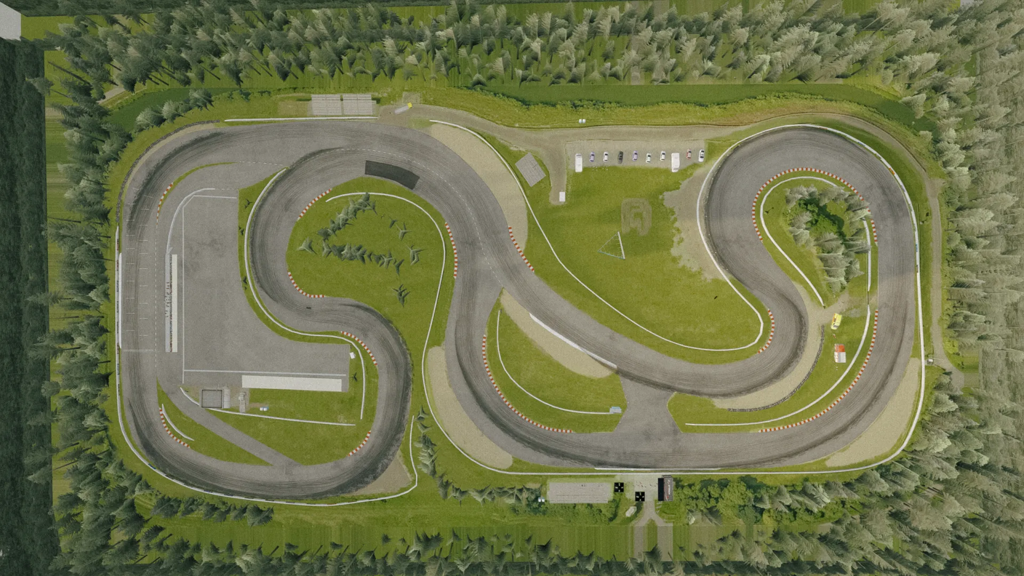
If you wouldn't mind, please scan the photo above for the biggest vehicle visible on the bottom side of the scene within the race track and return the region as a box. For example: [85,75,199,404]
[834,343,846,361]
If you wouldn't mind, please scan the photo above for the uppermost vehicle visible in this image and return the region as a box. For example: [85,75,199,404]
[395,102,413,115]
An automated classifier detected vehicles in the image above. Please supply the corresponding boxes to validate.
[646,153,651,163]
[660,151,666,161]
[590,152,595,162]
[699,150,704,161]
[603,152,608,162]
[575,154,582,173]
[395,102,413,115]
[831,314,842,328]
[834,343,846,361]
[632,151,638,161]
[686,150,691,159]
[670,152,680,173]
[618,152,623,163]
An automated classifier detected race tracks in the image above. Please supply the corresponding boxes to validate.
[121,121,915,500]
